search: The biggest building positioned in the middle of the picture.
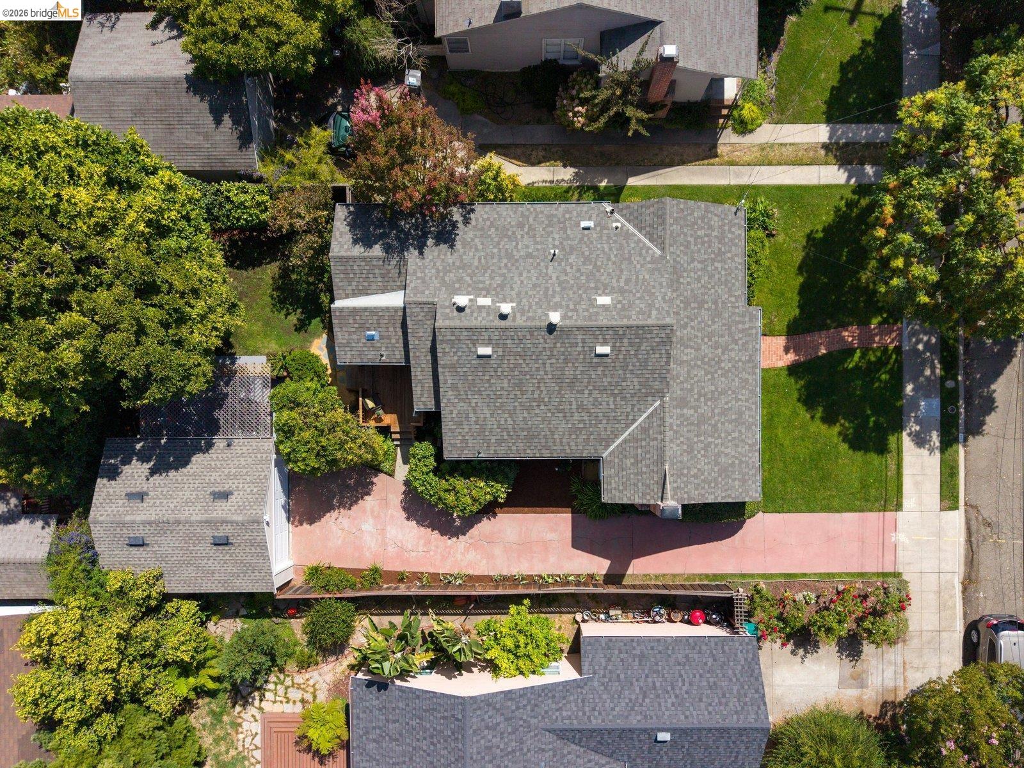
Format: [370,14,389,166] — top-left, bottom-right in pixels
[328,196,765,524]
